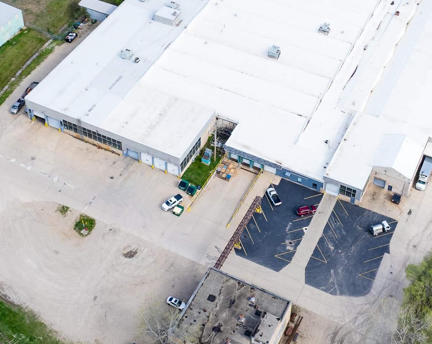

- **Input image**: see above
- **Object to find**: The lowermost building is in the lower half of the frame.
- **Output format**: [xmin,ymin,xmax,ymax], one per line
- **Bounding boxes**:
[170,267,291,344]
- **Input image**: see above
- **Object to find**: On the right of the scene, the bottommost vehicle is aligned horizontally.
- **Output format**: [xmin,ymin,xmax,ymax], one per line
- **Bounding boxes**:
[368,221,392,234]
